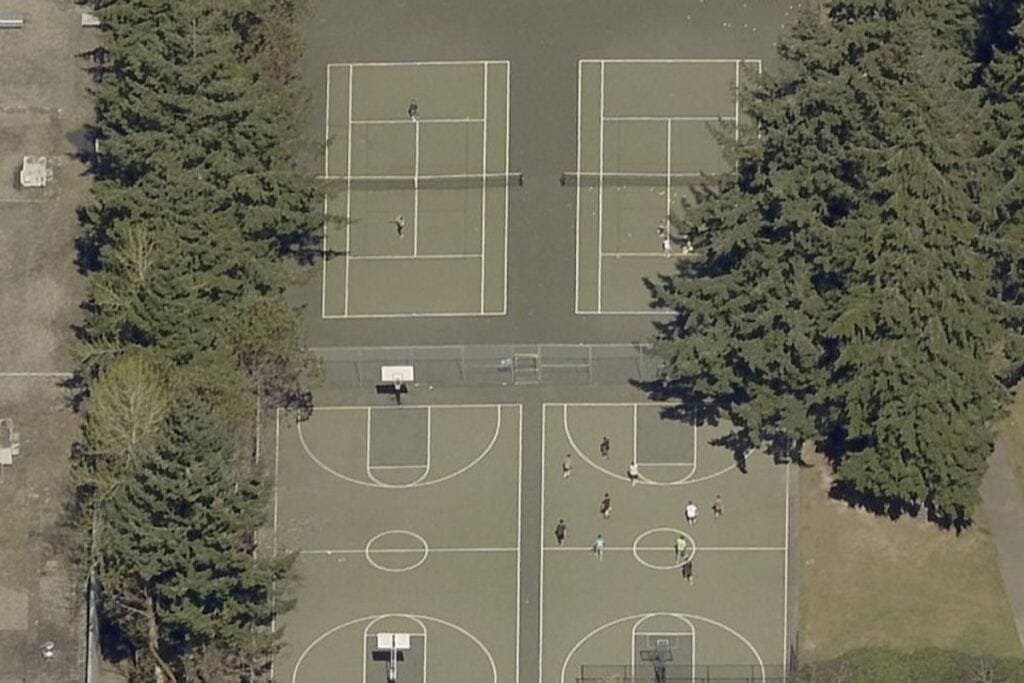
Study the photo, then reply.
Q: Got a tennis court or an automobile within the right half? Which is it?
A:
tennis court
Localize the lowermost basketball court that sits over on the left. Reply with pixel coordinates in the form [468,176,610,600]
[271,405,522,683]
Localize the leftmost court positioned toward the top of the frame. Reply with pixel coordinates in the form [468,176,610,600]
[323,61,509,317]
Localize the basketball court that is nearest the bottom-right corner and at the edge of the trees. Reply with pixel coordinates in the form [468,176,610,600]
[539,401,788,683]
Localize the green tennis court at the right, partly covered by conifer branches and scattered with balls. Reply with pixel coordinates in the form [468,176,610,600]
[576,58,761,313]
